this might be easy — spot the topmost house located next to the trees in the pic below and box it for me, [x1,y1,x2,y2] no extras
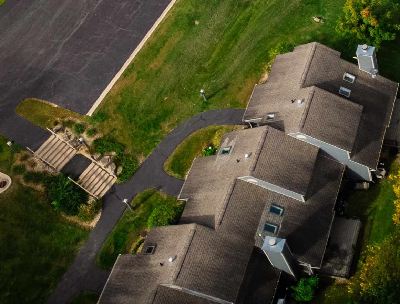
[240,43,399,181]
